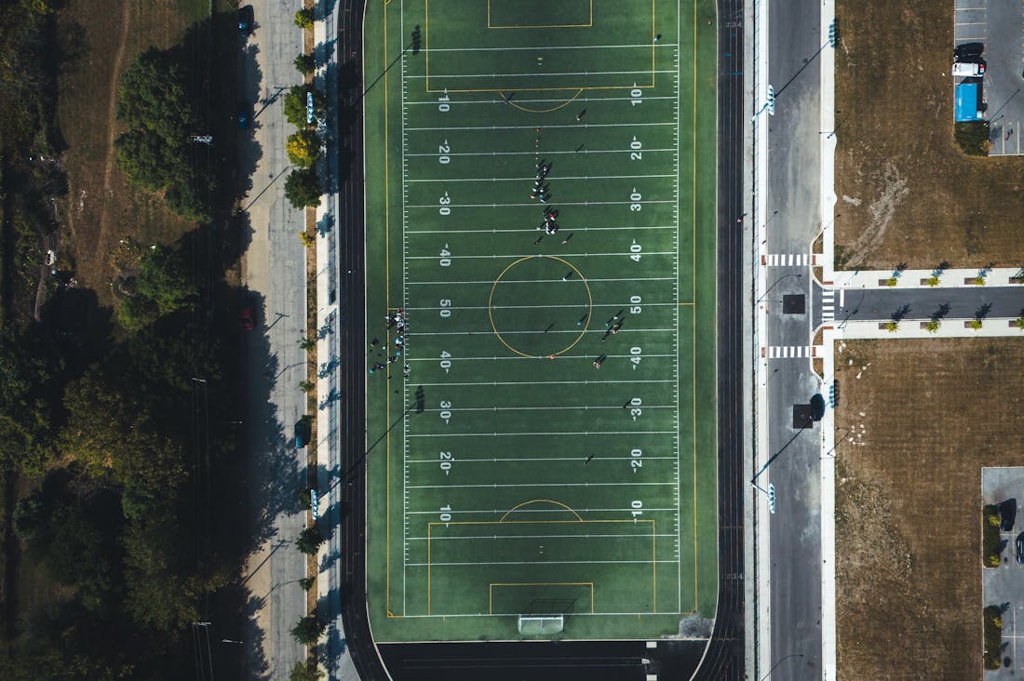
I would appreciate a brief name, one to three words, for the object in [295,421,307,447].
vehicle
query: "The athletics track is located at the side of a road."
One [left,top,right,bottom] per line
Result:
[337,0,744,681]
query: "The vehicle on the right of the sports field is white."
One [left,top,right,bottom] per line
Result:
[950,64,985,78]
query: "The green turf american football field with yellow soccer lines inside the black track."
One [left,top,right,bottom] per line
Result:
[365,0,716,644]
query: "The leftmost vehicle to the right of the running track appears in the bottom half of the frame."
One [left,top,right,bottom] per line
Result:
[810,397,823,423]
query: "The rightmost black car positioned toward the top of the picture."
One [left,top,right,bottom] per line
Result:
[955,47,983,60]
